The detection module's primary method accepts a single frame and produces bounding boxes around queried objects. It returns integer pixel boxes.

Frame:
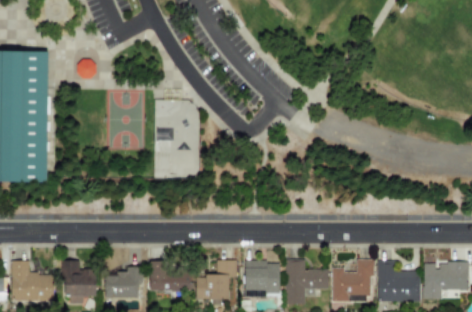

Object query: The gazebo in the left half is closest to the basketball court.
[75,57,98,80]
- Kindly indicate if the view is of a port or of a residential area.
residential area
